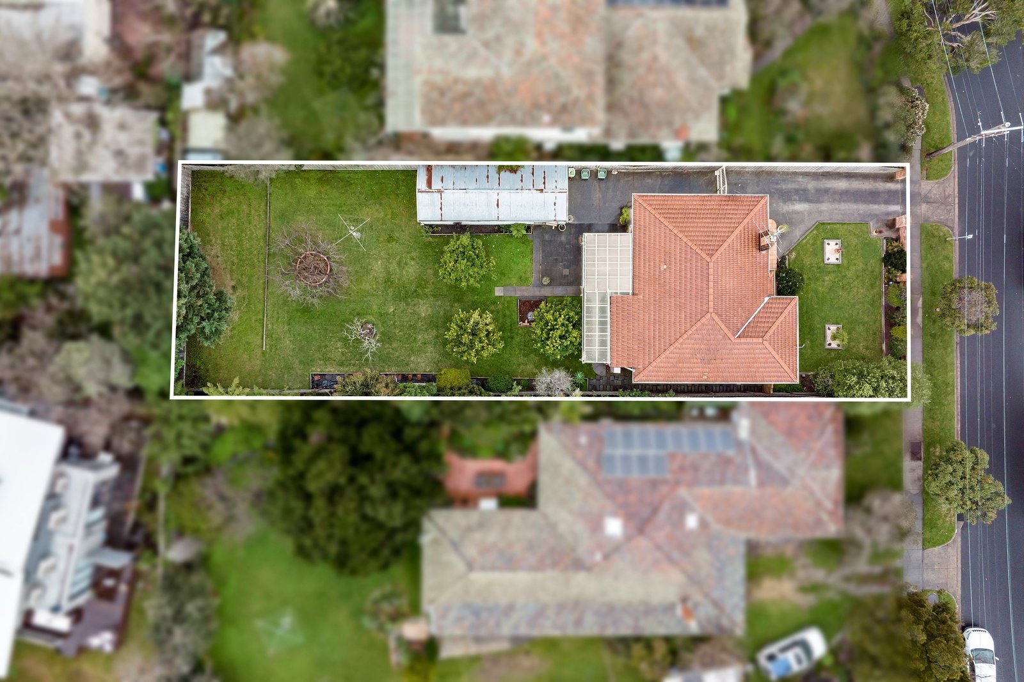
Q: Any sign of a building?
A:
Yes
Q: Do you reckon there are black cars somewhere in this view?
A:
No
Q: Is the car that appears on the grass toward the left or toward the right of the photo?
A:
right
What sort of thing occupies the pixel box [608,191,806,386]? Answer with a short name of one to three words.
house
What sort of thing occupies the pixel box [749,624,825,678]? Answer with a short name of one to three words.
car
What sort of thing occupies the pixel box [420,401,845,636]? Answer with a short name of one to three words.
house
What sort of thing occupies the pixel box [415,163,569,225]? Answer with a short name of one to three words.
shed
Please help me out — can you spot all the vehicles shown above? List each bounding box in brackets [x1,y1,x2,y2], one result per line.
[957,625,998,682]
[749,624,825,678]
